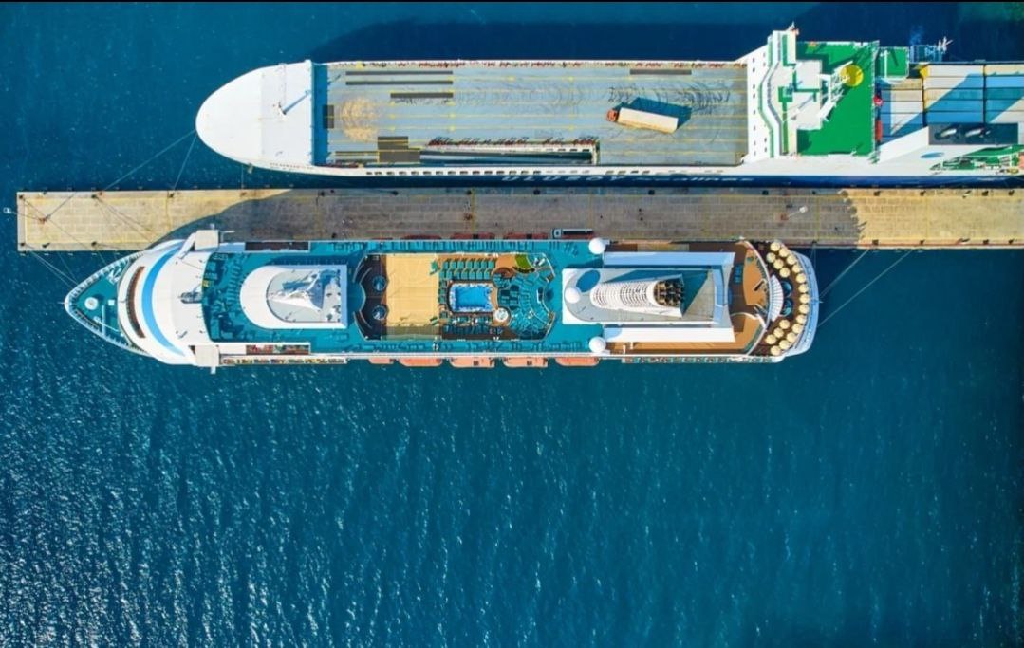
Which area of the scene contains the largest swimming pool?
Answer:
center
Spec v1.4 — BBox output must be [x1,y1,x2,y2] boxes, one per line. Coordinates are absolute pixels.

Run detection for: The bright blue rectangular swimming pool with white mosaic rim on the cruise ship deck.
[446,281,494,315]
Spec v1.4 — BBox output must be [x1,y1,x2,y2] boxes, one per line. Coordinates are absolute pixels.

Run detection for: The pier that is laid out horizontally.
[17,187,1024,254]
